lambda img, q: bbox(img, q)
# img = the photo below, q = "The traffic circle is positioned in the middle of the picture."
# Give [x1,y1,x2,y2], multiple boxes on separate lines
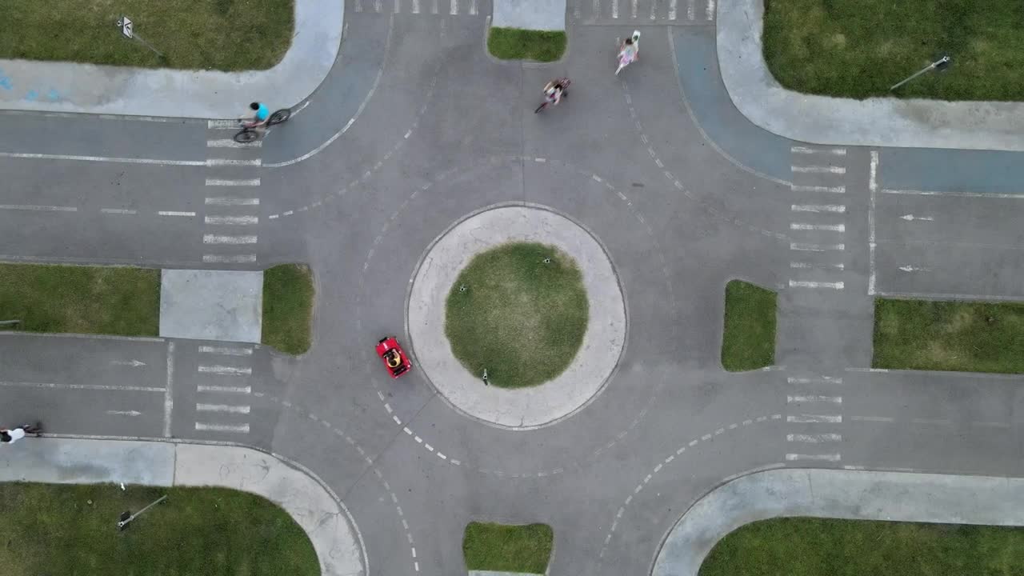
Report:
[409,207,625,427]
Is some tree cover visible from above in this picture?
No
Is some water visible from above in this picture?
No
